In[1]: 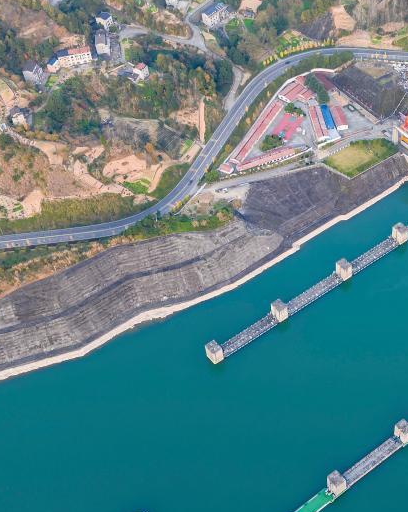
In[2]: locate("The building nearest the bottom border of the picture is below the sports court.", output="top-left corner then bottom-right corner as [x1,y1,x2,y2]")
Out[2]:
[237,147,297,177]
